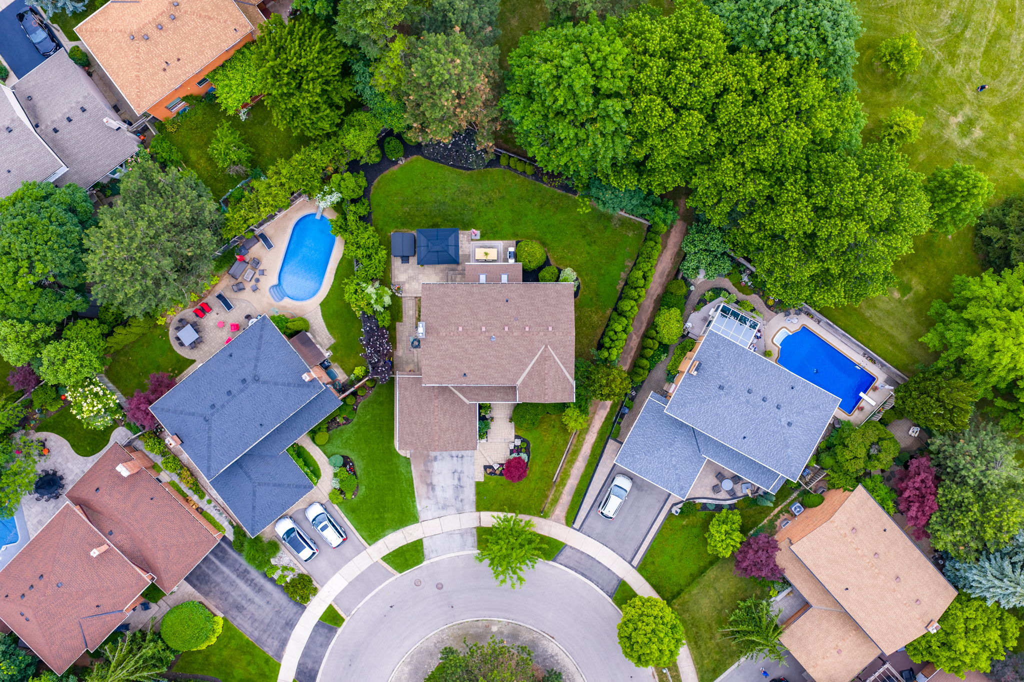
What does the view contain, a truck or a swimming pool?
swimming pool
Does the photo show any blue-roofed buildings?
Yes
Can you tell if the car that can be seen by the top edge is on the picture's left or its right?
left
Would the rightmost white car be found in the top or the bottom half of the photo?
bottom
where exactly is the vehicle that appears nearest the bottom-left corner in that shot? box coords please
[276,516,319,564]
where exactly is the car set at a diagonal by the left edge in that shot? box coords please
[14,5,59,56]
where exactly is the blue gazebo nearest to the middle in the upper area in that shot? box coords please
[416,229,460,267]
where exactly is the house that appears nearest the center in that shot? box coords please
[398,263,576,454]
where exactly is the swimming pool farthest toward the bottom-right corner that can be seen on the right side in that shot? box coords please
[772,324,879,416]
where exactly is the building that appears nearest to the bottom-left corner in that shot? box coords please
[0,442,228,677]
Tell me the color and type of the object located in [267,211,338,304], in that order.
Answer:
blue swimming pool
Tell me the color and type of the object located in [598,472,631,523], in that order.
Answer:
white car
